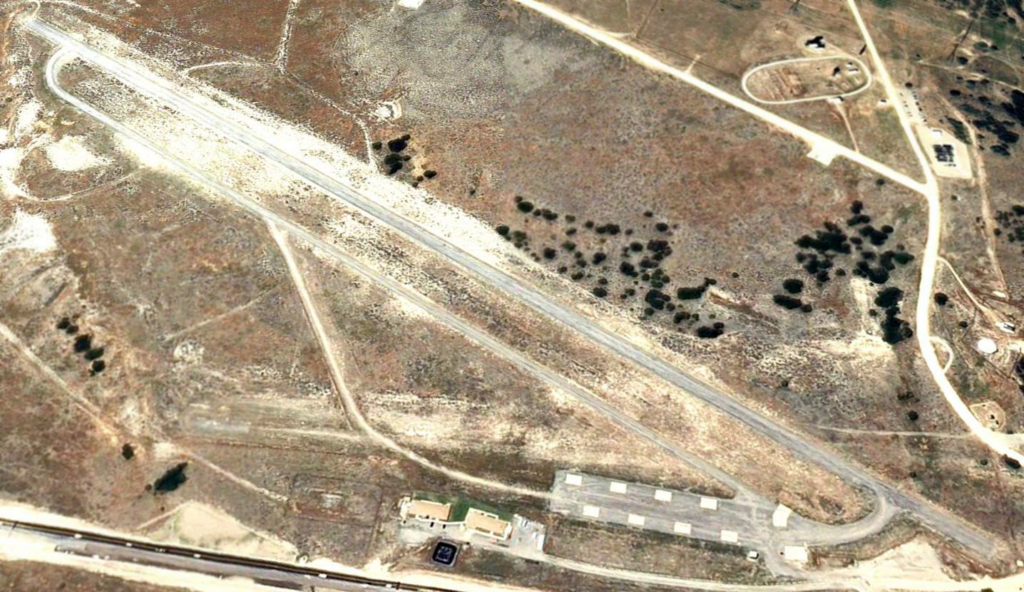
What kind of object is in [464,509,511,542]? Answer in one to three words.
house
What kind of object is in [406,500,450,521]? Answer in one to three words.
house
